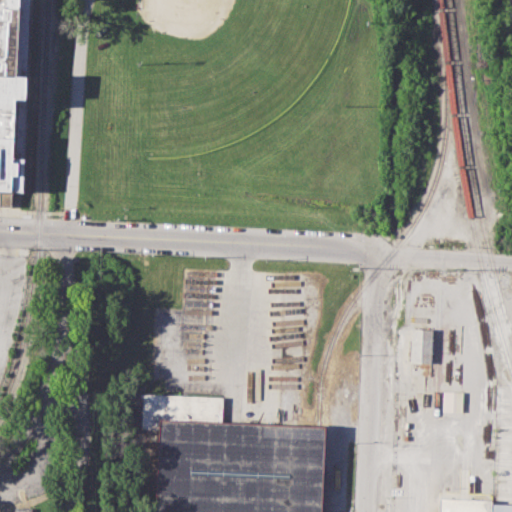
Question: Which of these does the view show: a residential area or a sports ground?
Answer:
sports ground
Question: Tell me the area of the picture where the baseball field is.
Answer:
top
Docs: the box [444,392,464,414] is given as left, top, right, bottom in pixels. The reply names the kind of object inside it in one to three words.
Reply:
building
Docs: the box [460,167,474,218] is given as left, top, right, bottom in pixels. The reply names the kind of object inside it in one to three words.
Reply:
rail car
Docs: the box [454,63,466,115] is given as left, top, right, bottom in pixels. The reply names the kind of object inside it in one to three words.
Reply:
rail car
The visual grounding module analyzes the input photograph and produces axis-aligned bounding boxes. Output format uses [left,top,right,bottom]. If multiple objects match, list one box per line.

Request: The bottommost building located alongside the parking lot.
[156,421,328,512]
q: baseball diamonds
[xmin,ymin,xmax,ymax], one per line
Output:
[78,0,385,234]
